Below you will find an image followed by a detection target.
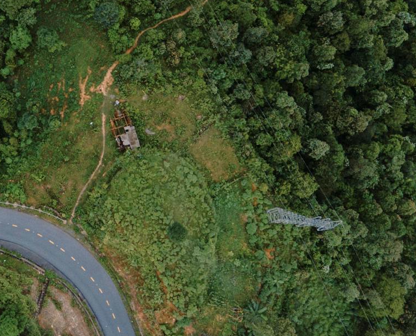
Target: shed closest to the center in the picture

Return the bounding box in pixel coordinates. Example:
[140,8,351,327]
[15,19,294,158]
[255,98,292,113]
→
[106,111,140,152]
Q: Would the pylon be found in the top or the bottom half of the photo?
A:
bottom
